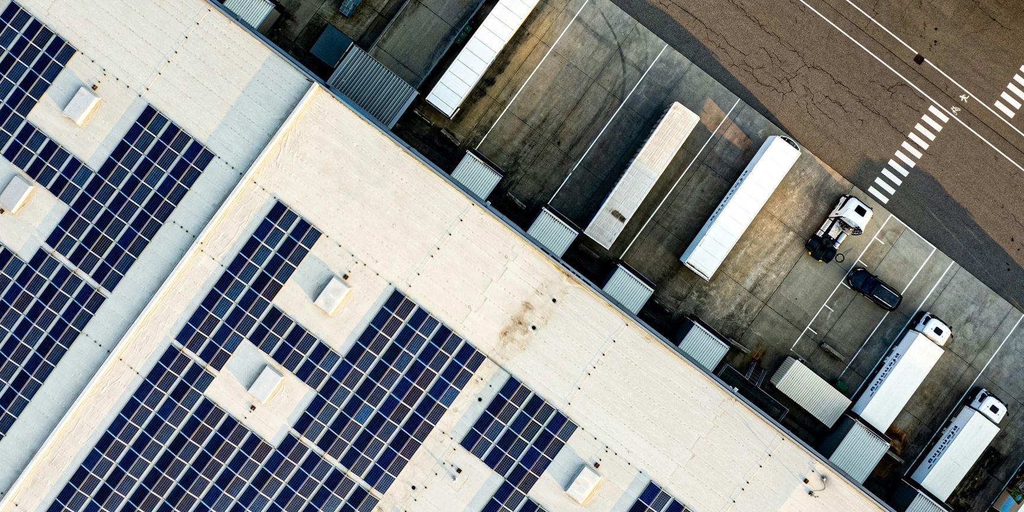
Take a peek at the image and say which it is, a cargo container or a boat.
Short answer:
cargo container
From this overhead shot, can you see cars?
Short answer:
Yes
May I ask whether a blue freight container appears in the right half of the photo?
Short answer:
No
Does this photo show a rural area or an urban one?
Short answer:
urban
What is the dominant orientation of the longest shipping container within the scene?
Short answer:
diagonally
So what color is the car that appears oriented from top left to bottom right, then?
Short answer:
black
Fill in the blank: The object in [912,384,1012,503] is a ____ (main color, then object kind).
white truck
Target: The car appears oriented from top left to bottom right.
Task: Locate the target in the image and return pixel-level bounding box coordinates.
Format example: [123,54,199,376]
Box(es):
[846,269,903,314]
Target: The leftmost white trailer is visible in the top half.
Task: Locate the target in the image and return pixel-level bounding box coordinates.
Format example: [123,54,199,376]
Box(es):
[425,0,541,120]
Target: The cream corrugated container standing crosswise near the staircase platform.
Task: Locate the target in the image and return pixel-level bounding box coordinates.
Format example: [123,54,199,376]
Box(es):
[770,355,851,428]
